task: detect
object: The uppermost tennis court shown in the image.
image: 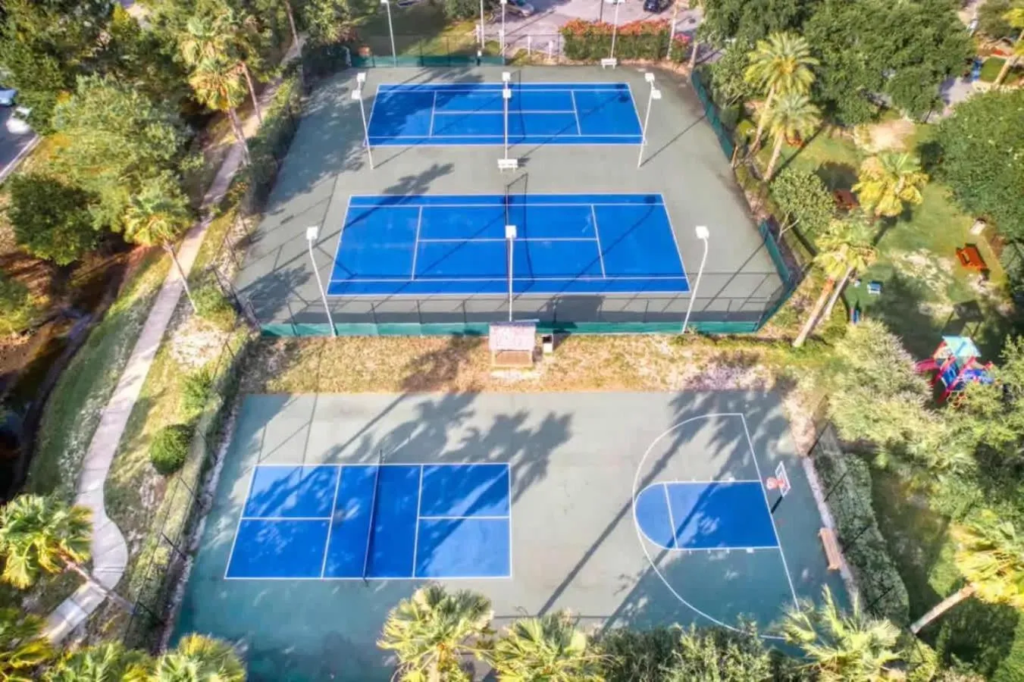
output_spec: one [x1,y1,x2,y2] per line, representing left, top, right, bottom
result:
[363,67,646,146]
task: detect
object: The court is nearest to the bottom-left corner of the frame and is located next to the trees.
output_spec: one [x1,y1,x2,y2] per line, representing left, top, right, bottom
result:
[222,448,512,586]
